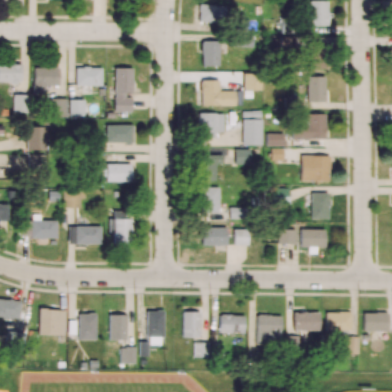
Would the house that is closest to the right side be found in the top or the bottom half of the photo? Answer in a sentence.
The house that is closest to the right side sits in the bottom half of the picture.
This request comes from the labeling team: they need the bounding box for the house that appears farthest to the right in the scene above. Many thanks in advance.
[365,313,391,332]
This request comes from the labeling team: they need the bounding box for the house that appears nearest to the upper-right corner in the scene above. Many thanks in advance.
[311,0,331,26]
